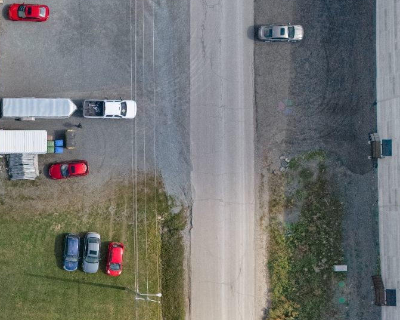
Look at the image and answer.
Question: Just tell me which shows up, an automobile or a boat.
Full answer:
The image shows an automobile.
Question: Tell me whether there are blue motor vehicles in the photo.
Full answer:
Yes, a blue motor vehicle appears in the view.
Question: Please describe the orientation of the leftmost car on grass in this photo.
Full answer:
What the image shows is the leftmost car on grass lying from top to bottom.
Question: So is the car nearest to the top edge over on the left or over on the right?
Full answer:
It is on the left.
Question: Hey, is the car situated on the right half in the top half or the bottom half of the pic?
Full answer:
You can find the car situated on the right half in the top half.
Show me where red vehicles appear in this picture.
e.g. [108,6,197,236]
[47,160,89,180]
[8,2,49,23]
[105,239,125,276]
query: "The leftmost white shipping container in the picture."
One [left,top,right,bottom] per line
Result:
[0,130,48,156]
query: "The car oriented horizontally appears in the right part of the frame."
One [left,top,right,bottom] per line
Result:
[256,22,302,44]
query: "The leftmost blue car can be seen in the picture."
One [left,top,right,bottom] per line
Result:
[61,232,82,272]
